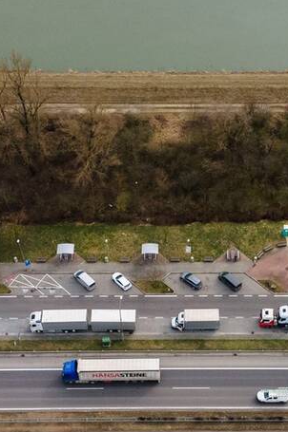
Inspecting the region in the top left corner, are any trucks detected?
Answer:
No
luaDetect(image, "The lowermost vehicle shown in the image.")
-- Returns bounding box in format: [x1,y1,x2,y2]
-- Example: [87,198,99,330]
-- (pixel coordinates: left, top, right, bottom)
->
[257,389,288,403]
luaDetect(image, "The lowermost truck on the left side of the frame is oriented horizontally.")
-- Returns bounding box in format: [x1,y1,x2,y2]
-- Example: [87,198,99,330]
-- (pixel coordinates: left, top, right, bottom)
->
[61,358,160,383]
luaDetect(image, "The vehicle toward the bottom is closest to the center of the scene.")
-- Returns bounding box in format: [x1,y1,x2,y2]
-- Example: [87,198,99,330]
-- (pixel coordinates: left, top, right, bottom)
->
[112,272,130,291]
